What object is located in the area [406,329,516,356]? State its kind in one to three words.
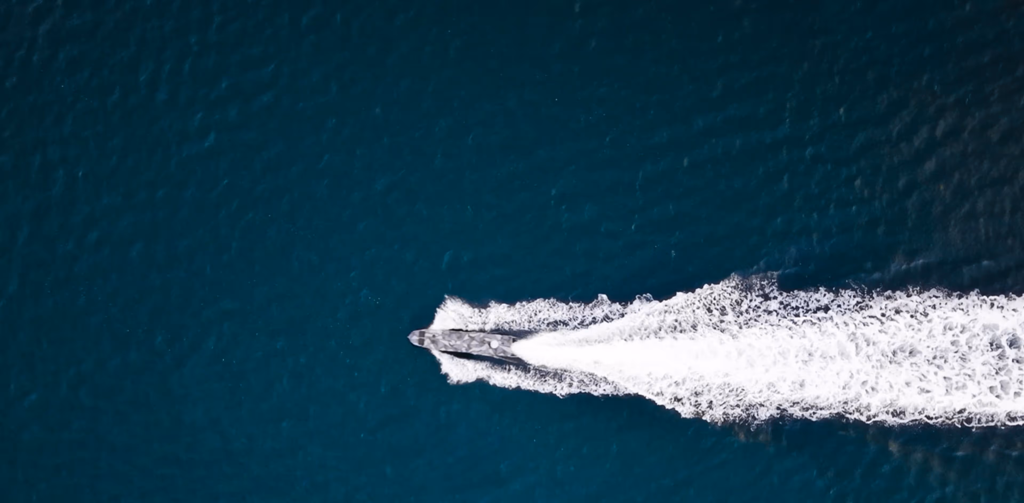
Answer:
boat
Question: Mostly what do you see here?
water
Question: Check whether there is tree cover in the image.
No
